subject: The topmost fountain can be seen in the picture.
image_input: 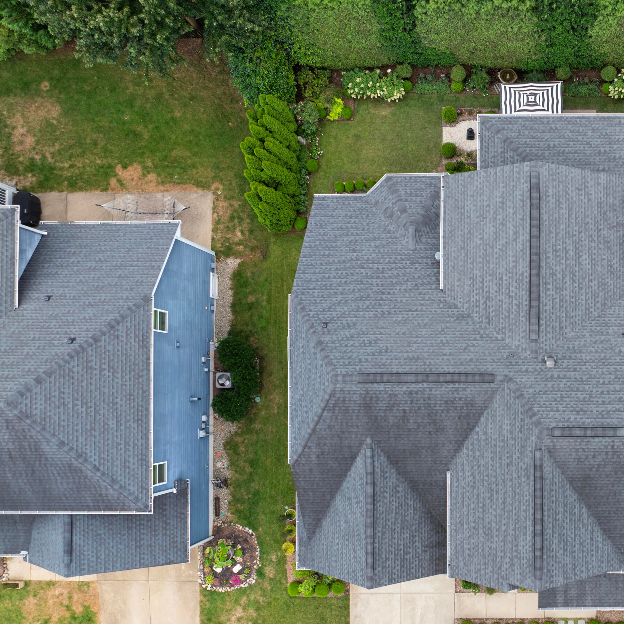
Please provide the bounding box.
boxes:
[501,67,517,83]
